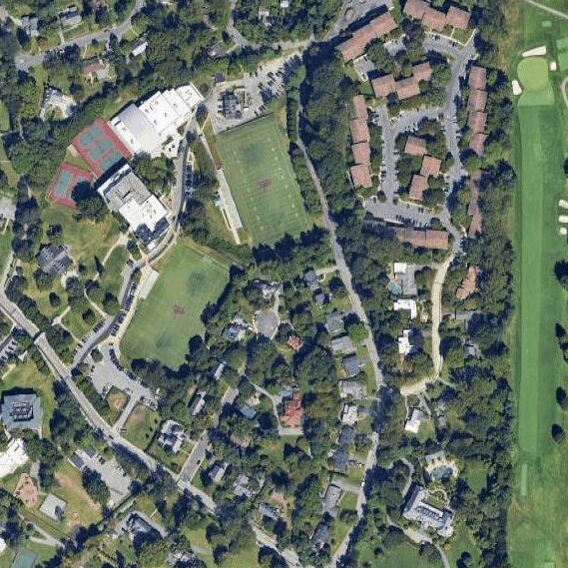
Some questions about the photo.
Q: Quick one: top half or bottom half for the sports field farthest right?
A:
top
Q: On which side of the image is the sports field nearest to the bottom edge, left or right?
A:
left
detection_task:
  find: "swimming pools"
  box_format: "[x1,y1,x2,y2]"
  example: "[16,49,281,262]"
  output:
[387,280,402,296]
[431,467,454,479]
